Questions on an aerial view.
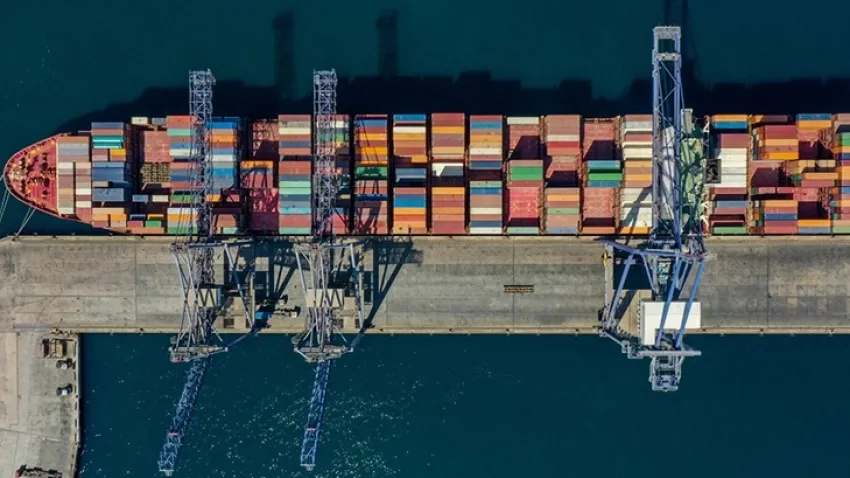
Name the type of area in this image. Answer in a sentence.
It's a port.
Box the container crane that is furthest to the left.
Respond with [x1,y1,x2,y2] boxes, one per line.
[157,69,263,469]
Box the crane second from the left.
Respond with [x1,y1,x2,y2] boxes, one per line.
[288,69,369,469]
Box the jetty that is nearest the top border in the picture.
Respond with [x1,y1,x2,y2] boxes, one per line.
[0,237,850,332]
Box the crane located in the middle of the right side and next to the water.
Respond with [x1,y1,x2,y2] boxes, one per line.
[590,26,718,390]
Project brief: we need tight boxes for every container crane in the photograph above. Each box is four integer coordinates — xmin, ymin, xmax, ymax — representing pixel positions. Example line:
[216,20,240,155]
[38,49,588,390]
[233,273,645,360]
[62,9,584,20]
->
[590,26,718,390]
[157,69,263,469]
[288,69,369,469]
